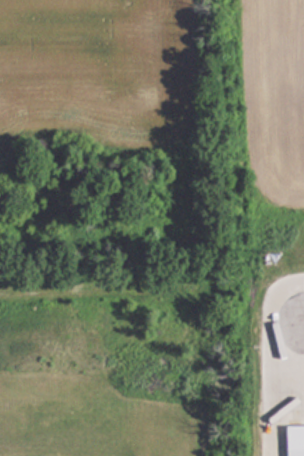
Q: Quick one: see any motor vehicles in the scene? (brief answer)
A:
Yes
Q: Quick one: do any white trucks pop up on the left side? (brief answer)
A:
No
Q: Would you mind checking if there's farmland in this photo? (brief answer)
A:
Yes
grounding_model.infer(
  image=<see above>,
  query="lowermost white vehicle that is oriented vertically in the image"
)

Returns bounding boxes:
[272,310,288,360]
